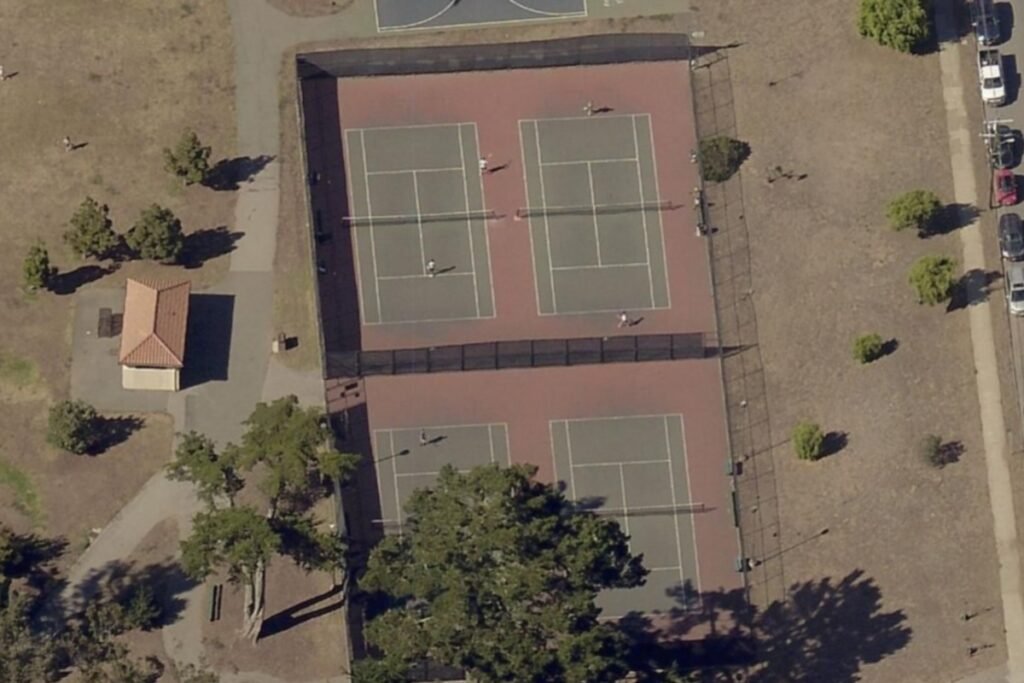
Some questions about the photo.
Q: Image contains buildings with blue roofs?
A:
No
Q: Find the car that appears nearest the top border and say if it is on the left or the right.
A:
right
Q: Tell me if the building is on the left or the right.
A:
left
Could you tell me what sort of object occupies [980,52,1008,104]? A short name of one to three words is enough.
truck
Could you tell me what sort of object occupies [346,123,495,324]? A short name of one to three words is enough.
tennis court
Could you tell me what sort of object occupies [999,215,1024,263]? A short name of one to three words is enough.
car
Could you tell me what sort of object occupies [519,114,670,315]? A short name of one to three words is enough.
tennis court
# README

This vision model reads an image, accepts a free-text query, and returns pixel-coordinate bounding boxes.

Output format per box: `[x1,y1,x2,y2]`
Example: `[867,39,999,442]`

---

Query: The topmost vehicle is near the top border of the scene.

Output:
[973,0,999,43]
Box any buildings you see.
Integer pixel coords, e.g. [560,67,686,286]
[119,278,191,389]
